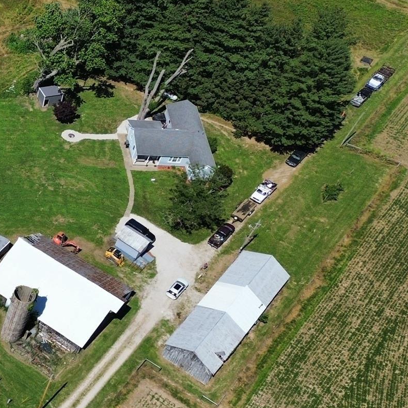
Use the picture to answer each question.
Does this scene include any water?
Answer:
No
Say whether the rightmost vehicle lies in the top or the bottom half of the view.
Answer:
top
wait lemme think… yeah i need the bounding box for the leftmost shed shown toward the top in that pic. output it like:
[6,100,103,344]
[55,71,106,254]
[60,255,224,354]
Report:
[38,87,66,109]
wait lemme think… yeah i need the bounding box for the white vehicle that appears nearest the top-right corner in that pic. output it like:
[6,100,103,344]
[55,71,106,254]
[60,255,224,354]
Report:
[367,68,394,88]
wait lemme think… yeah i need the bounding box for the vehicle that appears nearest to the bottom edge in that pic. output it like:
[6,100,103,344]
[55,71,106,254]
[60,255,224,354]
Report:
[167,277,191,298]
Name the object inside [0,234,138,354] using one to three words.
barn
